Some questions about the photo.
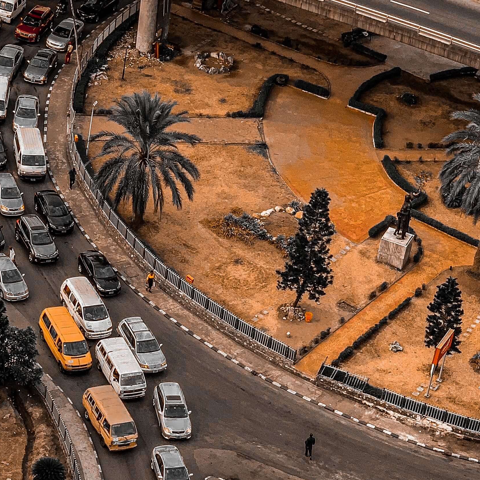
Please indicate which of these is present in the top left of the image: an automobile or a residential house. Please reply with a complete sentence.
The one visible in the top left of the image is an automobile.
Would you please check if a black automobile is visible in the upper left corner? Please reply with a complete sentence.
Yes, there is a black automobile in the upper left corner.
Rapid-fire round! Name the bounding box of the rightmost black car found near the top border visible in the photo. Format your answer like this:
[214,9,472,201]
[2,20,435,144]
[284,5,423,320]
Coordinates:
[80,0,123,24]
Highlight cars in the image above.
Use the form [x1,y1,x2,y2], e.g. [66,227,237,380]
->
[25,49,62,85]
[0,251,24,302]
[10,94,41,130]
[0,172,26,216]
[114,315,166,374]
[0,129,10,170]
[46,18,89,51]
[16,3,57,43]
[80,0,123,24]
[147,442,196,480]
[0,16,10,35]
[147,379,194,442]
[34,189,76,234]
[75,248,123,299]
[0,42,27,79]
[12,212,60,265]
